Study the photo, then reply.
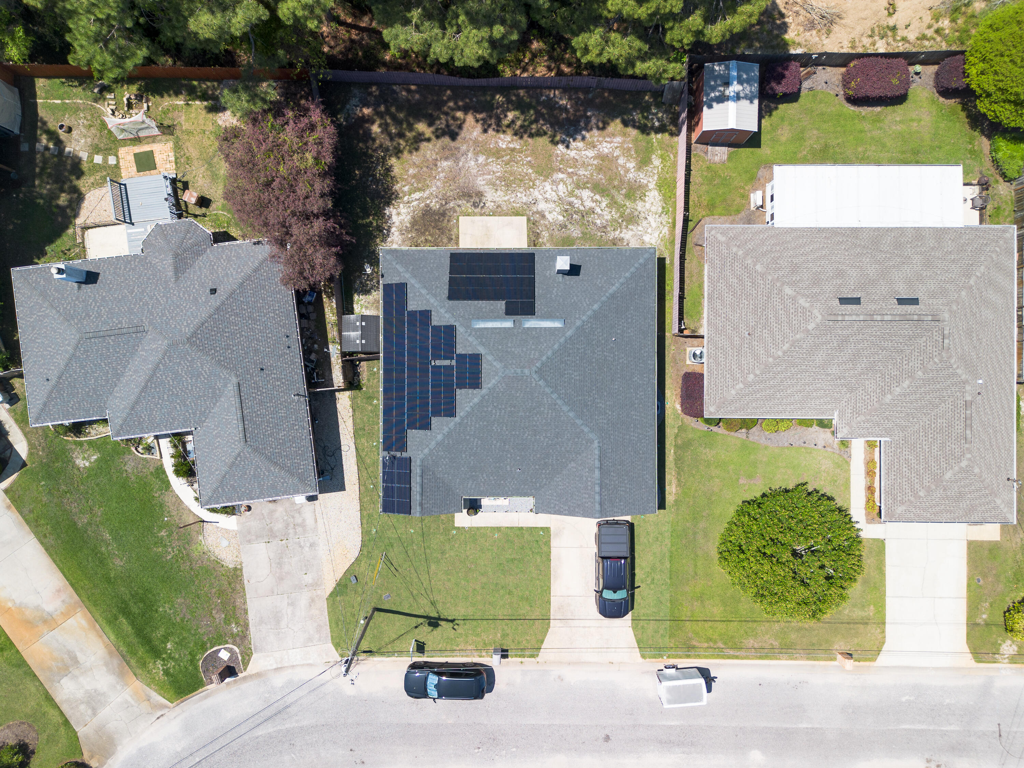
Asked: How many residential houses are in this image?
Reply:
3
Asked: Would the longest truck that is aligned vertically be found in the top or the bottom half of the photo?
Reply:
bottom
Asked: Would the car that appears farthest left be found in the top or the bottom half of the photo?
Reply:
bottom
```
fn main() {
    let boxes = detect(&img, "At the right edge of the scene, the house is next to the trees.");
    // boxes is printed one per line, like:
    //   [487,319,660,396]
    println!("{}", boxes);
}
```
[701,163,1019,525]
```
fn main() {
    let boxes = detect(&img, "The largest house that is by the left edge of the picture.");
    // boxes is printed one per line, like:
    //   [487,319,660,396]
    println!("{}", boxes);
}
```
[8,216,322,511]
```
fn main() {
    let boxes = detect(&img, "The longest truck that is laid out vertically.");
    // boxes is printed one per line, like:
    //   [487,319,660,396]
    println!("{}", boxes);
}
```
[592,518,635,617]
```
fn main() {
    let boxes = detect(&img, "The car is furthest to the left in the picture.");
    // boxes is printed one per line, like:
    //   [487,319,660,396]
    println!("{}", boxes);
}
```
[405,660,486,704]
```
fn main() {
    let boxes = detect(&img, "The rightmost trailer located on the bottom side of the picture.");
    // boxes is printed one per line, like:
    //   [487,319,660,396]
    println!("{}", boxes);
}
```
[656,664,717,708]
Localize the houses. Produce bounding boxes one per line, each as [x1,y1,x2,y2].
[8,216,322,511]
[379,246,659,519]
[701,163,1019,525]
